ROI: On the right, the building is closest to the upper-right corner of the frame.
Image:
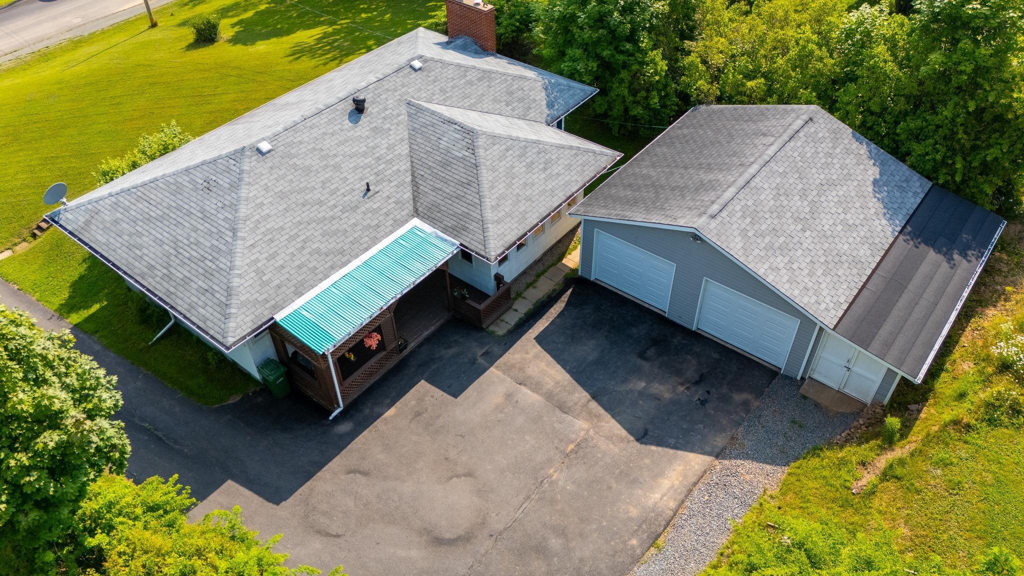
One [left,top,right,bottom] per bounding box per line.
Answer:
[569,105,1008,403]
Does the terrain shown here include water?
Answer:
No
